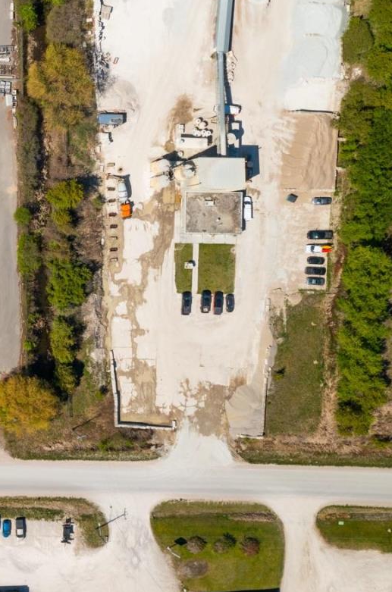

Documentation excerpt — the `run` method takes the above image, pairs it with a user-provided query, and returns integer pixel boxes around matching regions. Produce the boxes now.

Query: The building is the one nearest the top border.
[179,157,251,193]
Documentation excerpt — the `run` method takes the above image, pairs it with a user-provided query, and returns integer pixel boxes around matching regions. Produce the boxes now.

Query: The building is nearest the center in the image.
[180,193,244,233]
